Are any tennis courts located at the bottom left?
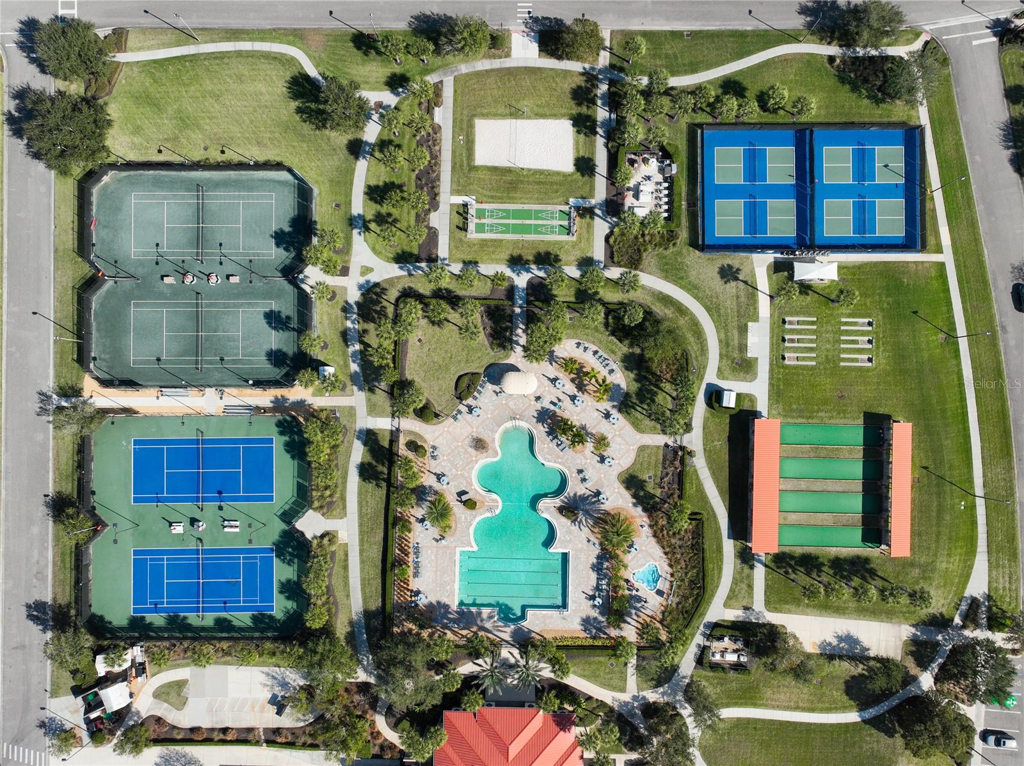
Yes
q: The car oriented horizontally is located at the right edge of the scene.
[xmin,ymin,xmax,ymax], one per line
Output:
[984,732,1015,747]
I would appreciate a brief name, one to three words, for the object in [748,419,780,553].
building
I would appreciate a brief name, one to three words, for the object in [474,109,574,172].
sports court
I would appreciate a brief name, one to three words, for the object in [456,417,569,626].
swimming pool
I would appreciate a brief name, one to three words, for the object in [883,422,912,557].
building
